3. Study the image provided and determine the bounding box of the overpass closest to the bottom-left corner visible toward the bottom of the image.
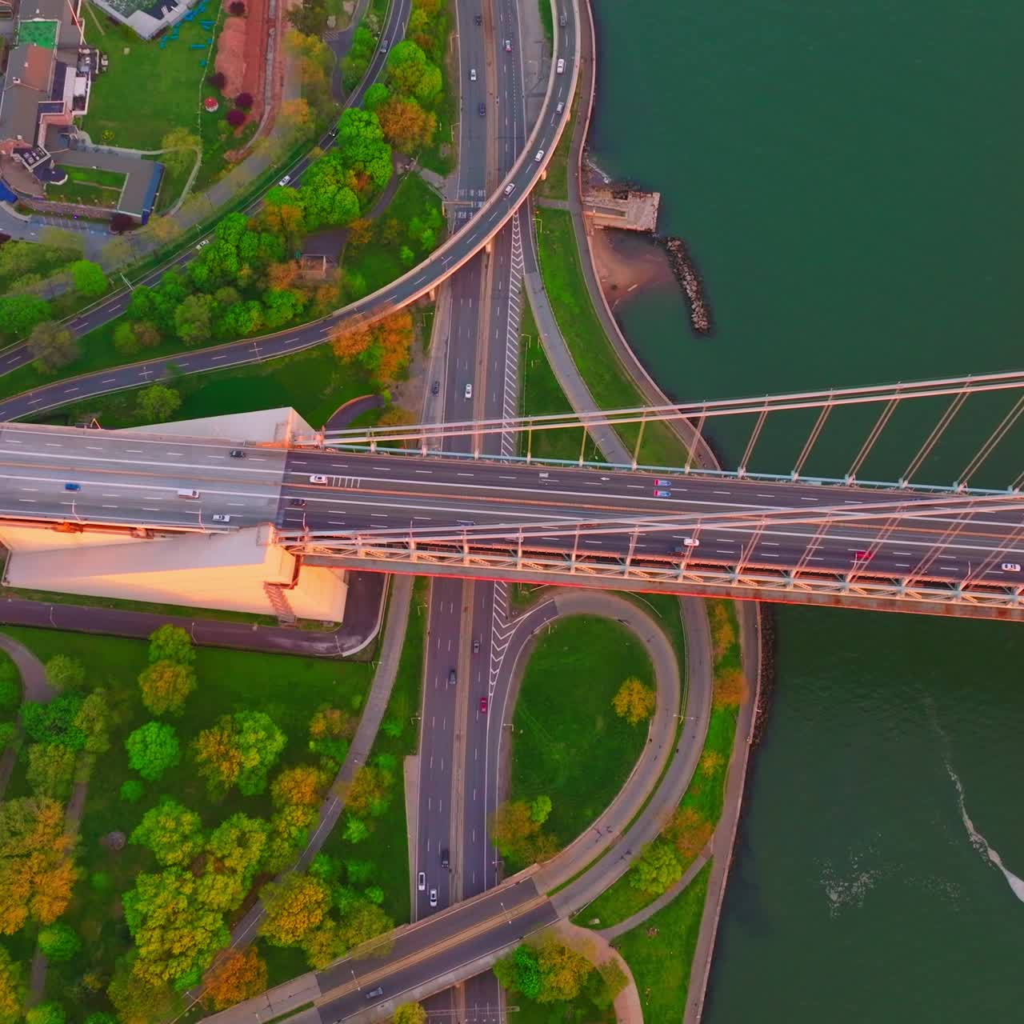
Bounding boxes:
[314,862,562,1024]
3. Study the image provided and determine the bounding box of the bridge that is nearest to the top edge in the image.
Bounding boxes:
[321,0,581,336]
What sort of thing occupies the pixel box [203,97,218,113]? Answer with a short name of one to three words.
gazebo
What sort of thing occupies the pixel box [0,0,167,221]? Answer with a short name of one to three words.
building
